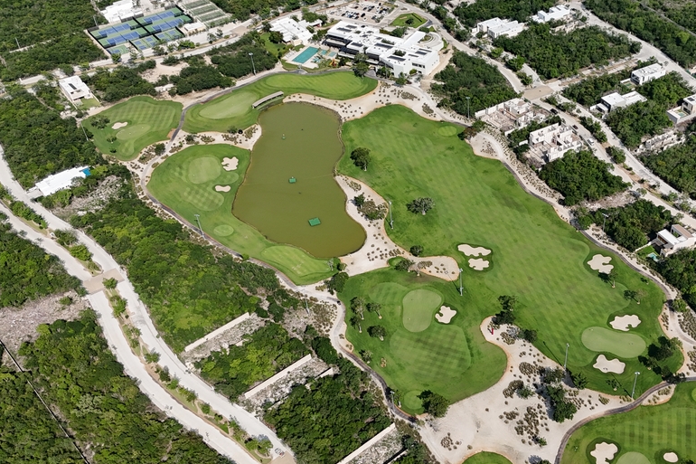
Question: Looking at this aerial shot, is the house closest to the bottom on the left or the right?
right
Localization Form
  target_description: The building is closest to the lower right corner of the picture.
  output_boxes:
[635,222,696,257]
